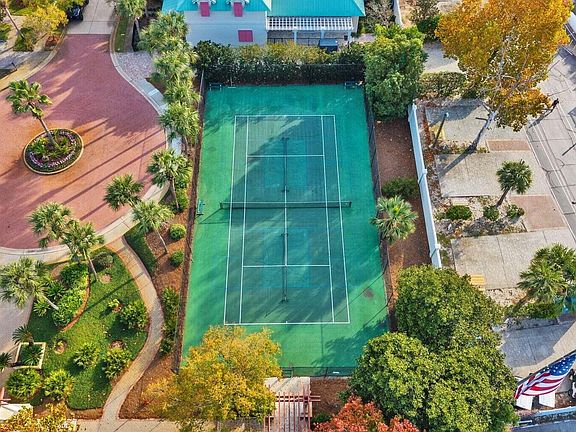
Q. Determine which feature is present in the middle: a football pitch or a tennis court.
tennis court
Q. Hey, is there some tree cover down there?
Yes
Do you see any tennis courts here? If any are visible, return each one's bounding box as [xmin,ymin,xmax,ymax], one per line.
[181,84,393,374]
